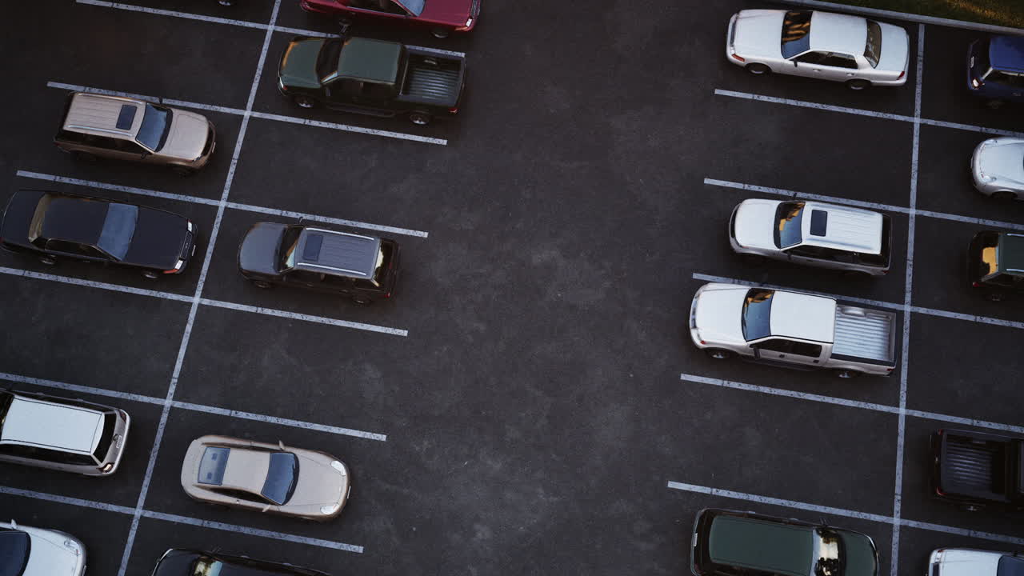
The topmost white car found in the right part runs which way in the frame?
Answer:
from left to right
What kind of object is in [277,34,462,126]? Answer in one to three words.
truck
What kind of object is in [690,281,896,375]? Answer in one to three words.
truck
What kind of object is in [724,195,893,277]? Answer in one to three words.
car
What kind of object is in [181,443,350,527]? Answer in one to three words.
car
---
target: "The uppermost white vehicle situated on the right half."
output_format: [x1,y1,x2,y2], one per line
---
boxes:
[726,7,909,87]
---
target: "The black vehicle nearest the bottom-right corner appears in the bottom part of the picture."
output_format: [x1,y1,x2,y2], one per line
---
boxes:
[927,431,1024,520]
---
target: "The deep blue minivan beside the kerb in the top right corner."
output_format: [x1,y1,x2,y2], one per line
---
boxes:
[960,33,1024,108]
